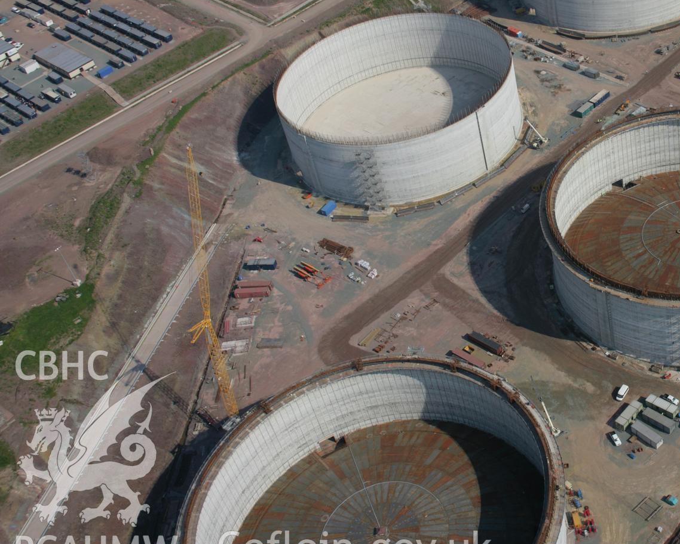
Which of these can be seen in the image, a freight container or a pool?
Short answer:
freight container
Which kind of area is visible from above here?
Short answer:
industrial area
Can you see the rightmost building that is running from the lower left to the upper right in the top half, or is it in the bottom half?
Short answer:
bottom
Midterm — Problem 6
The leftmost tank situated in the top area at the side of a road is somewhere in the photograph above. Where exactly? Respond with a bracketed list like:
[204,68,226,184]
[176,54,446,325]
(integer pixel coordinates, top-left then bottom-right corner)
[274,7,525,208]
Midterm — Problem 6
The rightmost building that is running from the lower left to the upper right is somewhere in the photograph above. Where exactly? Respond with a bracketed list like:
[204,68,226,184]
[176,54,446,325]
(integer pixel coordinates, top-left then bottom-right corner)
[613,398,644,435]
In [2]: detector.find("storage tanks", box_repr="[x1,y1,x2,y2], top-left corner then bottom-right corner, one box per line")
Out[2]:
[178,354,567,544]
[546,111,680,367]
[274,7,525,208]
[520,0,680,36]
